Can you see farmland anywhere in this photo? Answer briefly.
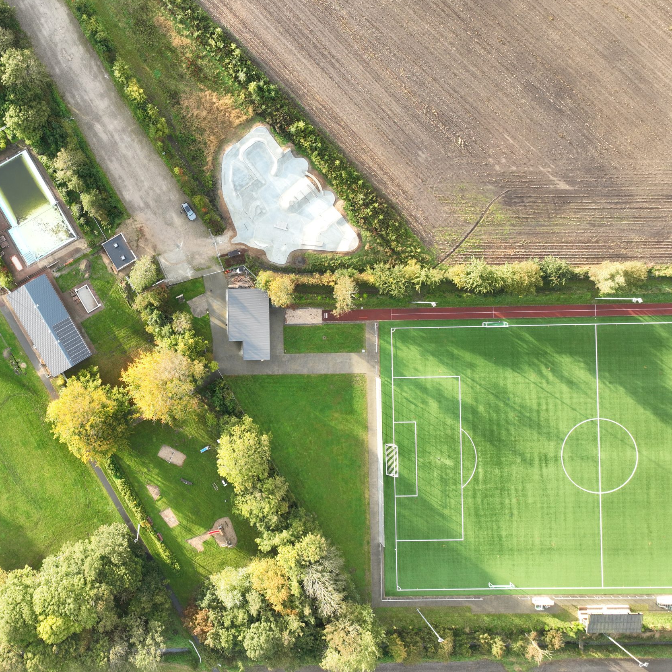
Yes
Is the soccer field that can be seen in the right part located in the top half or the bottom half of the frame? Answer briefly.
bottom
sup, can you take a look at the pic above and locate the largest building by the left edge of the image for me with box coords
[6,274,94,377]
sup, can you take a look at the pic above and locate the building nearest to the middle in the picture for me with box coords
[226,289,270,362]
